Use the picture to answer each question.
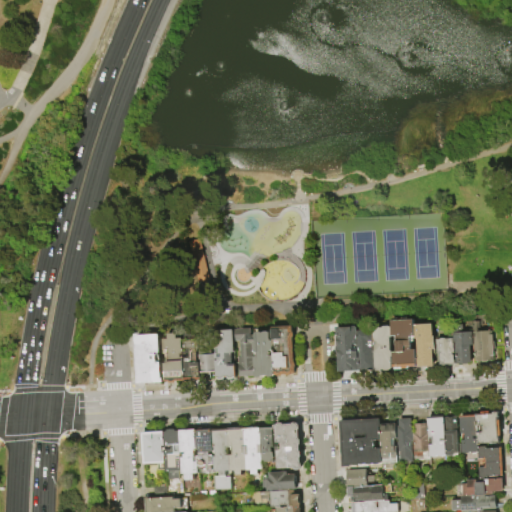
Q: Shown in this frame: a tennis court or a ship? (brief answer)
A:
tennis court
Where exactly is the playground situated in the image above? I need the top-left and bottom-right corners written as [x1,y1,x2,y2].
[212,204,312,304]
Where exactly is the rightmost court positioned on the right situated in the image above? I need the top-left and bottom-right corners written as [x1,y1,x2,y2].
[414,228,440,278]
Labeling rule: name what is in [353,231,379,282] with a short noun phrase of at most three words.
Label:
tennis court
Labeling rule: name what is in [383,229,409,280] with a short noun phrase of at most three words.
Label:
tennis court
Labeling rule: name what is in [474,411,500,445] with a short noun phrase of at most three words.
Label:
building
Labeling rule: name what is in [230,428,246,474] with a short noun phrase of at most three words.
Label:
house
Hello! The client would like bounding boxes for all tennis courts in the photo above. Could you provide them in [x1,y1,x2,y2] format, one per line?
[322,233,348,284]
[383,229,409,280]
[414,228,440,278]
[353,231,379,282]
